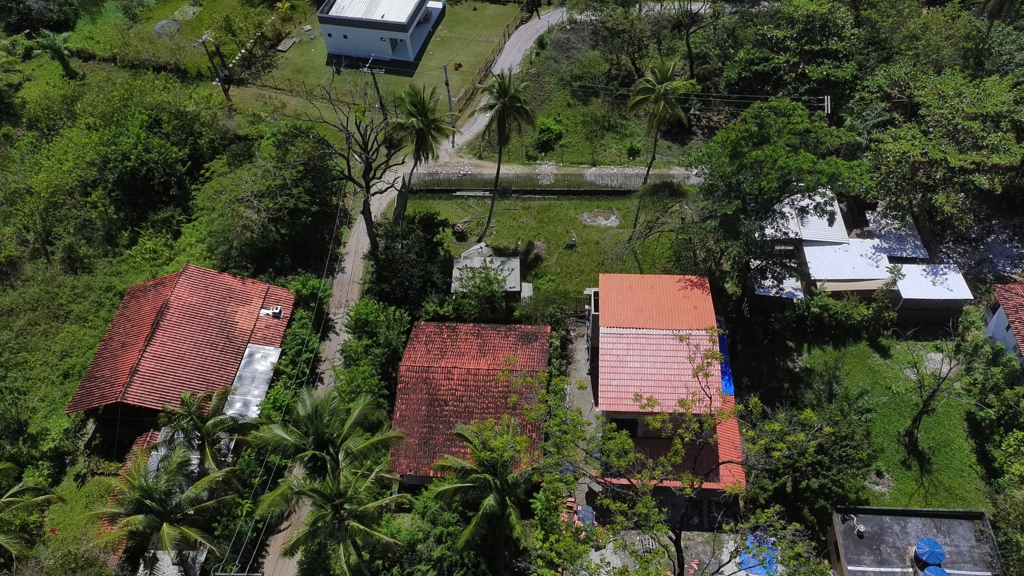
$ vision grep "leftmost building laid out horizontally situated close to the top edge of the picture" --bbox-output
[316,0,442,61]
